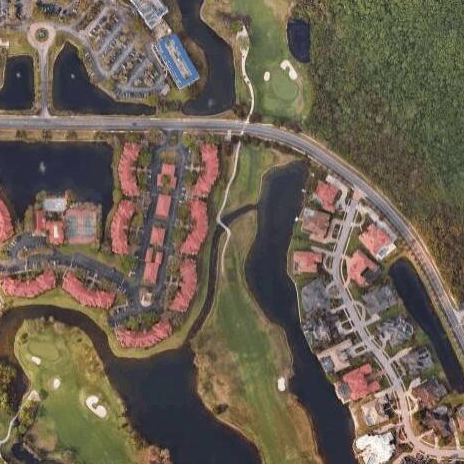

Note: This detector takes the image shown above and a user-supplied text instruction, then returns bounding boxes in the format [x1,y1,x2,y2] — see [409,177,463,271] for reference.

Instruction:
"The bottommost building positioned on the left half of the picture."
[111,315,175,348]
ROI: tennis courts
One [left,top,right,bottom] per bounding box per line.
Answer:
[81,209,96,243]
[67,209,82,243]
